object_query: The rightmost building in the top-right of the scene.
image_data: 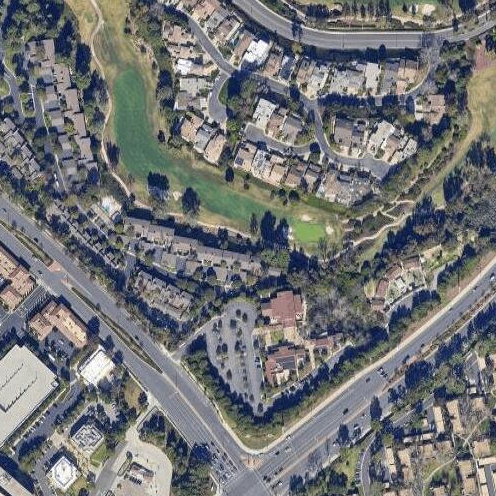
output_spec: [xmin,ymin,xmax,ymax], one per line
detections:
[417,97,444,120]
